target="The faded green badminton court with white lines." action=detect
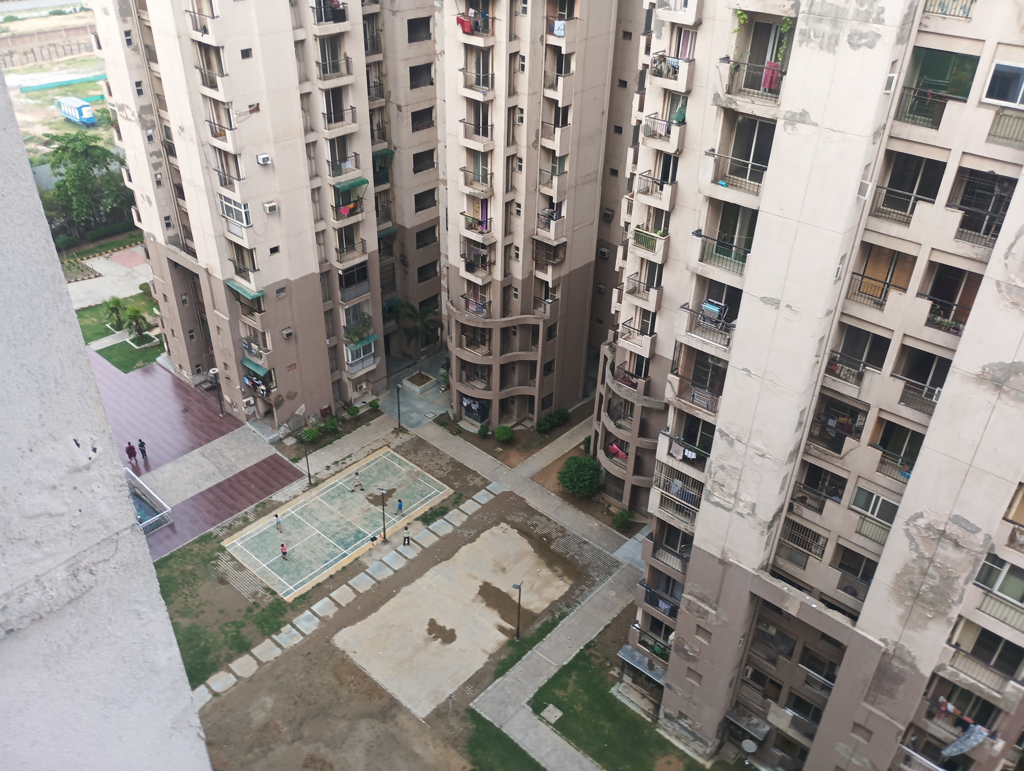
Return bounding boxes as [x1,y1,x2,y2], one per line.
[227,449,449,596]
